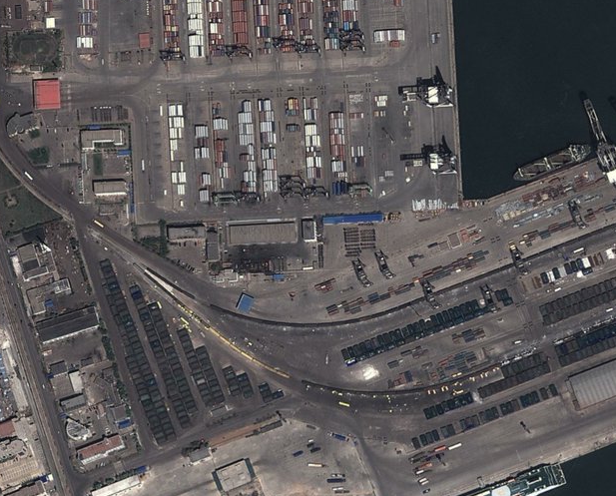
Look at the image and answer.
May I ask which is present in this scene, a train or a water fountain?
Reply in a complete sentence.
I can see a train in this picture.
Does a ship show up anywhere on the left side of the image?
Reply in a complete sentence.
No, the scene shows no ship on the left side of the image.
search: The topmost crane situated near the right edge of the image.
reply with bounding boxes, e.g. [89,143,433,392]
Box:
[584,103,616,188]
